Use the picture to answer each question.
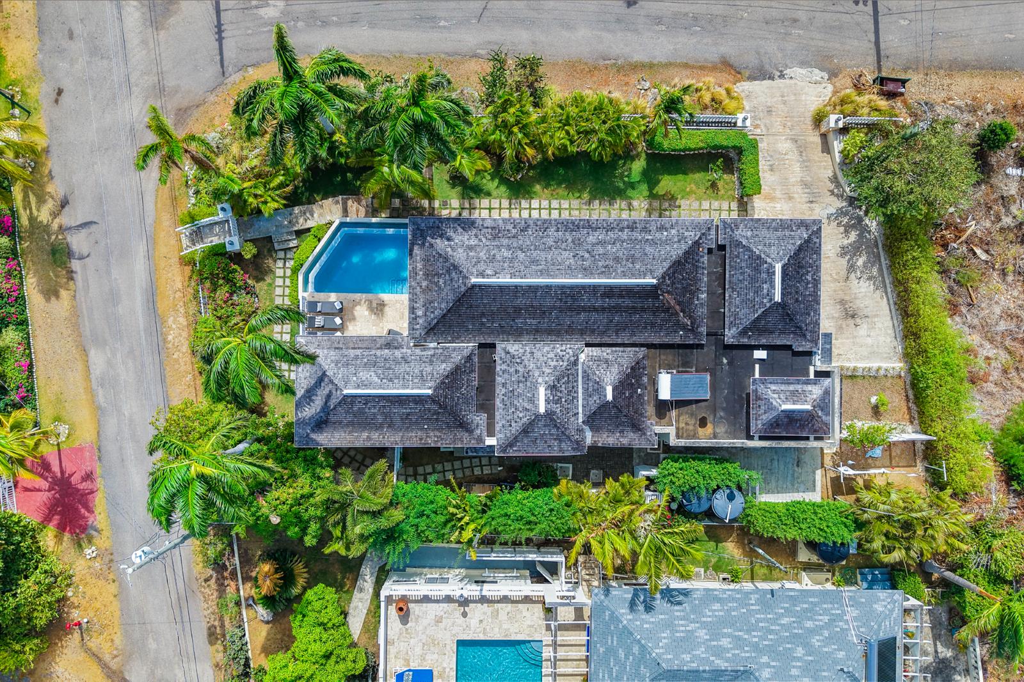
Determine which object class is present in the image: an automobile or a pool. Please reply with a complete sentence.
This aerial view contains a pool.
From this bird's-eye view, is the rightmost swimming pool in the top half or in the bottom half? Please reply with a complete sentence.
The bottom half of the photo is where the rightmost swimming pool is.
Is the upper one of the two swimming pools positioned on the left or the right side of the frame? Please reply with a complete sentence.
It is on the left.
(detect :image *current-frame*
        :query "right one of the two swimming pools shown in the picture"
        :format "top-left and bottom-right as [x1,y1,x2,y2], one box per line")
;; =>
[454,637,542,682]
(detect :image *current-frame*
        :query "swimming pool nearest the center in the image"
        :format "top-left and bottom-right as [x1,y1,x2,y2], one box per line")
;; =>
[298,218,408,335]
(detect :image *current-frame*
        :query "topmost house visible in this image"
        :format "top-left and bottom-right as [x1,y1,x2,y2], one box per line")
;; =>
[294,217,840,456]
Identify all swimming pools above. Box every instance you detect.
[454,637,542,682]
[298,218,408,335]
